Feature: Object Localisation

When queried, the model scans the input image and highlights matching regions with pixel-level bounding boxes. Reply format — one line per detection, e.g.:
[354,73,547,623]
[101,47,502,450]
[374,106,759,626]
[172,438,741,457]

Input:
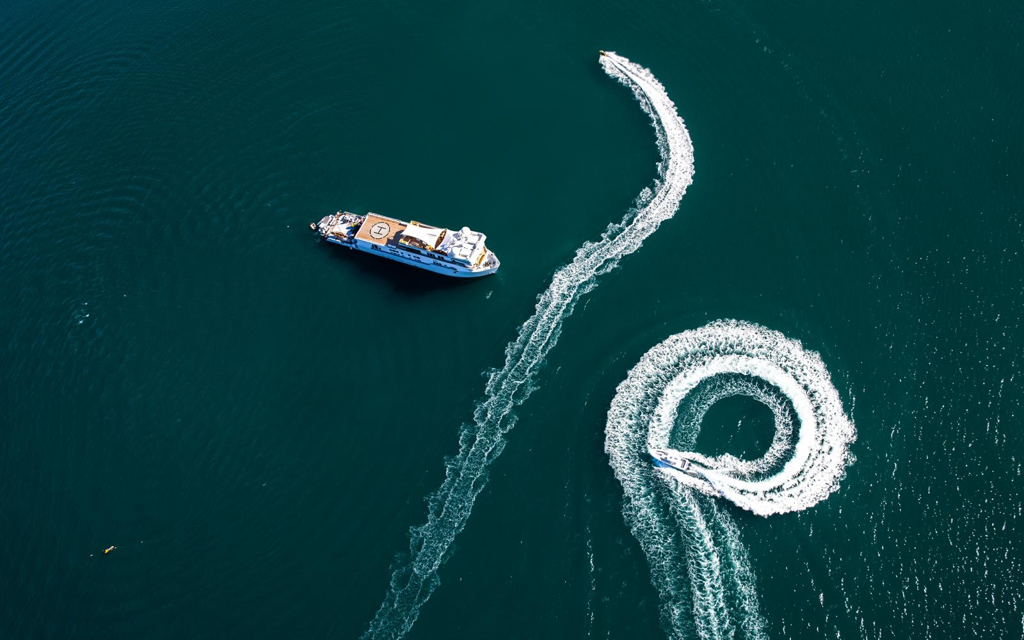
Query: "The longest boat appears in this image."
[319,211,501,277]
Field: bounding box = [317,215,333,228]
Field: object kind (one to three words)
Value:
boat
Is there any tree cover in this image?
No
